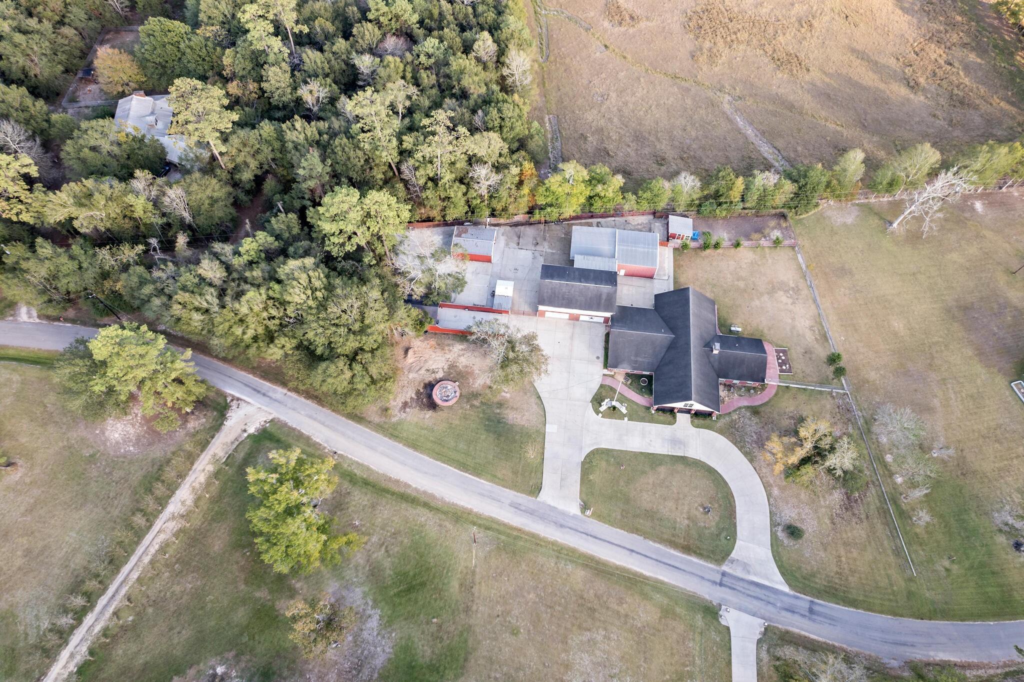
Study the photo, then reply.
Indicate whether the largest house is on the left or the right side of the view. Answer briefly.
right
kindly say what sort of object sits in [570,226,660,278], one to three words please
building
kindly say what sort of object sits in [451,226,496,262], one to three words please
shed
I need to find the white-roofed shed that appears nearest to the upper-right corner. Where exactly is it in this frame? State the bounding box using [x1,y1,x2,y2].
[667,215,693,245]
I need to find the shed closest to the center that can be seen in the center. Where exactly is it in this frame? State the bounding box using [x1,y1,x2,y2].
[493,280,514,311]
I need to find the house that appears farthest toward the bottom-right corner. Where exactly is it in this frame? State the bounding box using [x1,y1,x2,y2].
[608,287,769,416]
